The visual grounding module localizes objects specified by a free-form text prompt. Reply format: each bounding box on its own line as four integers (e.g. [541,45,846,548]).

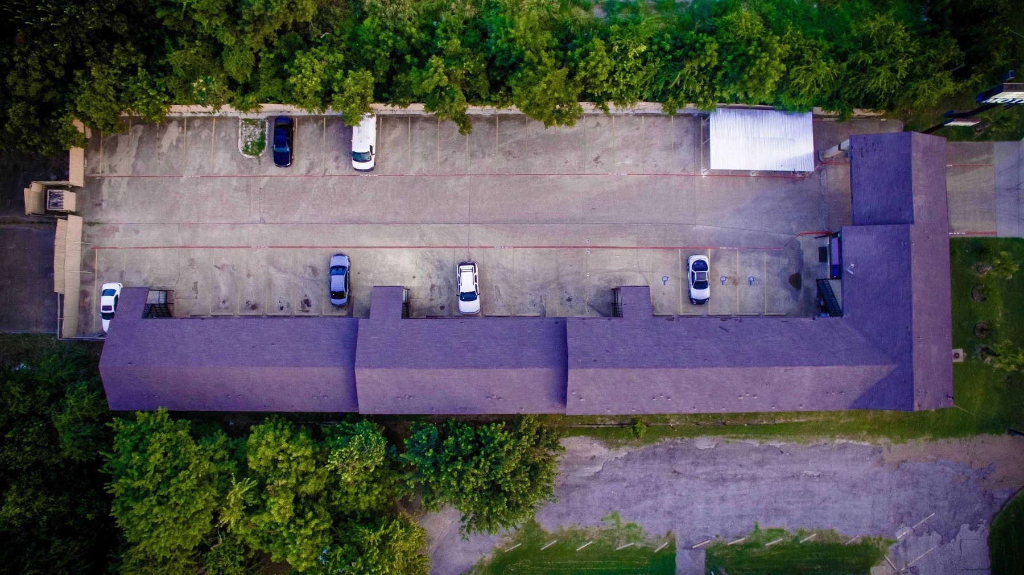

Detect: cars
[686,255,710,304]
[272,118,296,167]
[457,262,481,313]
[100,282,124,332]
[328,255,351,305]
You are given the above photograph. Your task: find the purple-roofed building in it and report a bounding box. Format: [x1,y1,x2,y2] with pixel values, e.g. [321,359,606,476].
[98,131,954,416]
